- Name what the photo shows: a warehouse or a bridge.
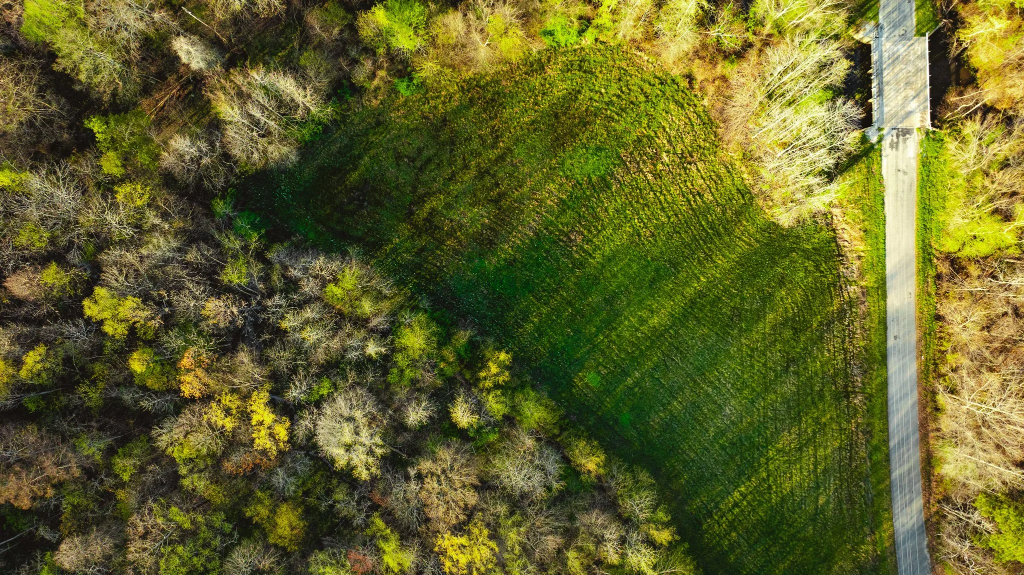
bridge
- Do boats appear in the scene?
No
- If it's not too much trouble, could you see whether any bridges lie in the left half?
No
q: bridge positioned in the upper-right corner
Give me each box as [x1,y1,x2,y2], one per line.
[853,22,943,133]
